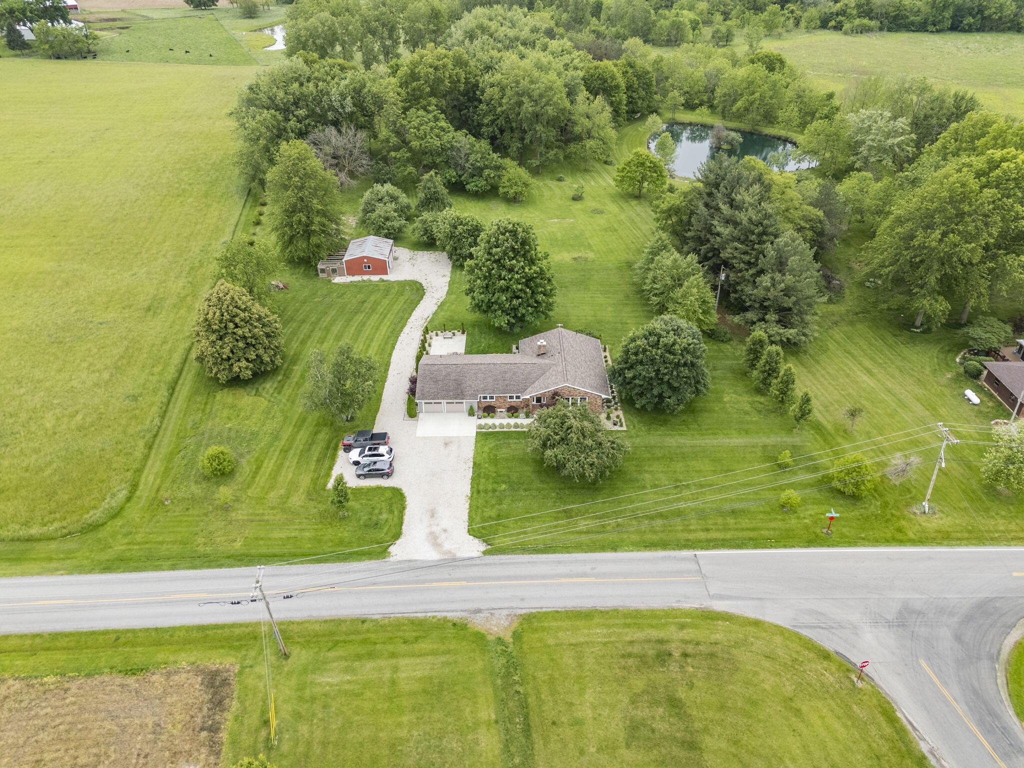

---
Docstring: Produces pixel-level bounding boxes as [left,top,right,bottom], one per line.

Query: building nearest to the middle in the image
[414,321,611,414]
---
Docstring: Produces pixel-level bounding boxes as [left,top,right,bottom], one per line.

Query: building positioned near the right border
[983,363,1024,418]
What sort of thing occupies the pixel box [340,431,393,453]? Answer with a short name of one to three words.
truck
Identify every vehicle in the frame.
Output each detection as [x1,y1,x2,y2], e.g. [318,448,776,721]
[340,431,393,453]
[351,447,395,466]
[355,460,396,480]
